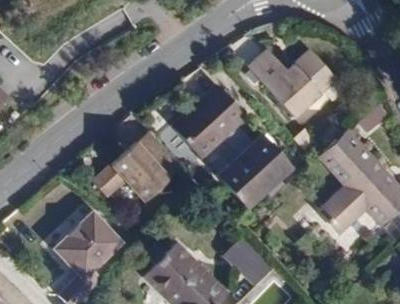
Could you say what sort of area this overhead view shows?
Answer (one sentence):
What you see here is a residential area.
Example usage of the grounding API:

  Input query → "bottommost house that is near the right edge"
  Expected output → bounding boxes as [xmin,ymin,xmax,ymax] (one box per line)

[320,130,400,226]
